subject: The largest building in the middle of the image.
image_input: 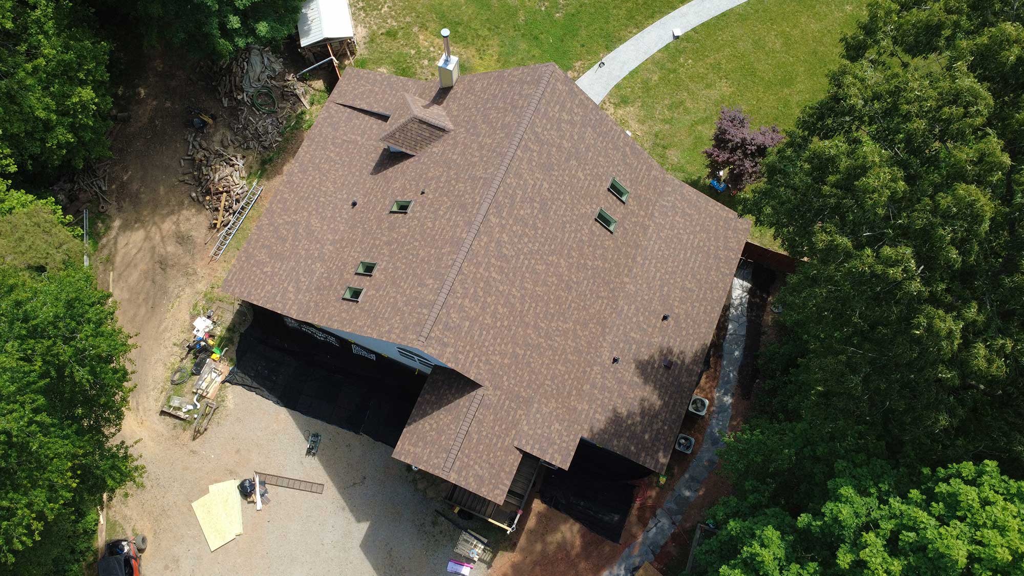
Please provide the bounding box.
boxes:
[223,22,749,533]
